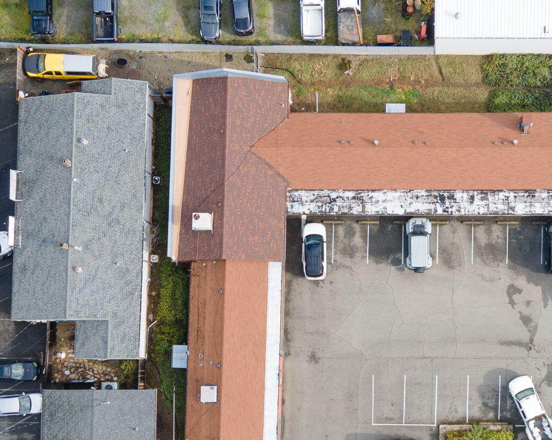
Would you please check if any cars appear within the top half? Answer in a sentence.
Yes, looking within the top half, one can make out a car.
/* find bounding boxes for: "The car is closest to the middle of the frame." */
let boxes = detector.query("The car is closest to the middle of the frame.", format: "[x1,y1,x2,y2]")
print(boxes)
[299,223,329,282]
